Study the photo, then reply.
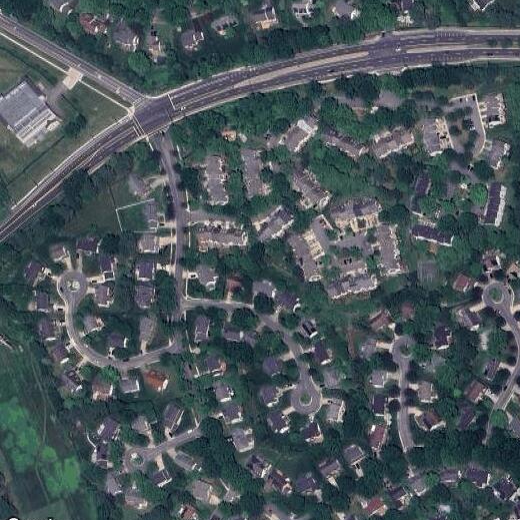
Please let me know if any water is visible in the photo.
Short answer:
No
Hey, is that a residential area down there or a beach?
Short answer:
residential area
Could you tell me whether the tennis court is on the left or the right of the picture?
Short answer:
right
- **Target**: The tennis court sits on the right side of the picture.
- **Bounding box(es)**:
[418,260,439,285]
